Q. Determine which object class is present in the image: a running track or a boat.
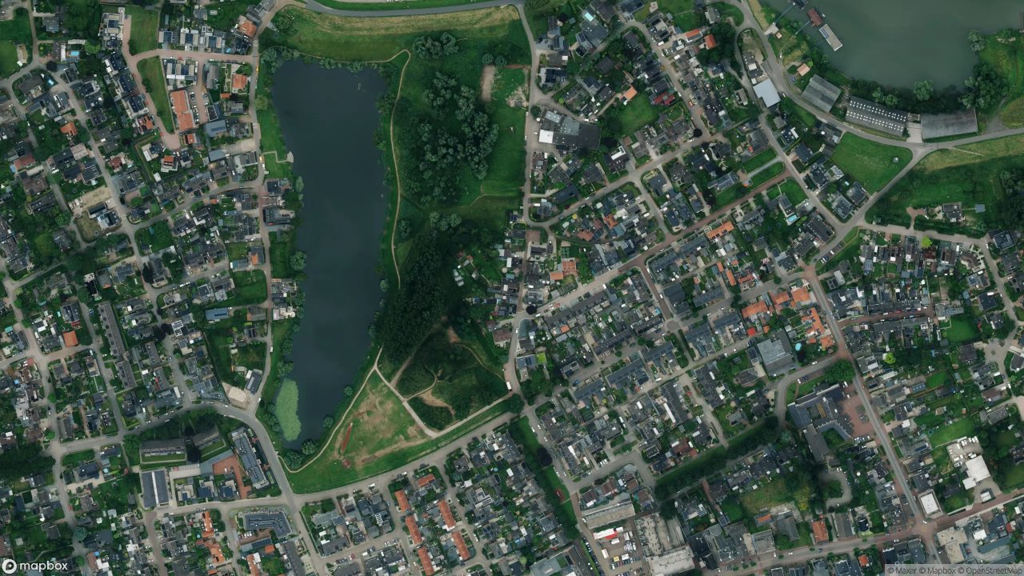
boat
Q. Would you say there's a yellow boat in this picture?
No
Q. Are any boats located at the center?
No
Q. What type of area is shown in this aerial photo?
residential area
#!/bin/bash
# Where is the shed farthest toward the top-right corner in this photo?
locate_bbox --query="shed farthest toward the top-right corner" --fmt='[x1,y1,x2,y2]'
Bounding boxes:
[920,108,978,139]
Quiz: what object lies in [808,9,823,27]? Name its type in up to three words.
boat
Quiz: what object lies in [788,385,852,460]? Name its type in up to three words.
building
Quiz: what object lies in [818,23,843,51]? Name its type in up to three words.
boat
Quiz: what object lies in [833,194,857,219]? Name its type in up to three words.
house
